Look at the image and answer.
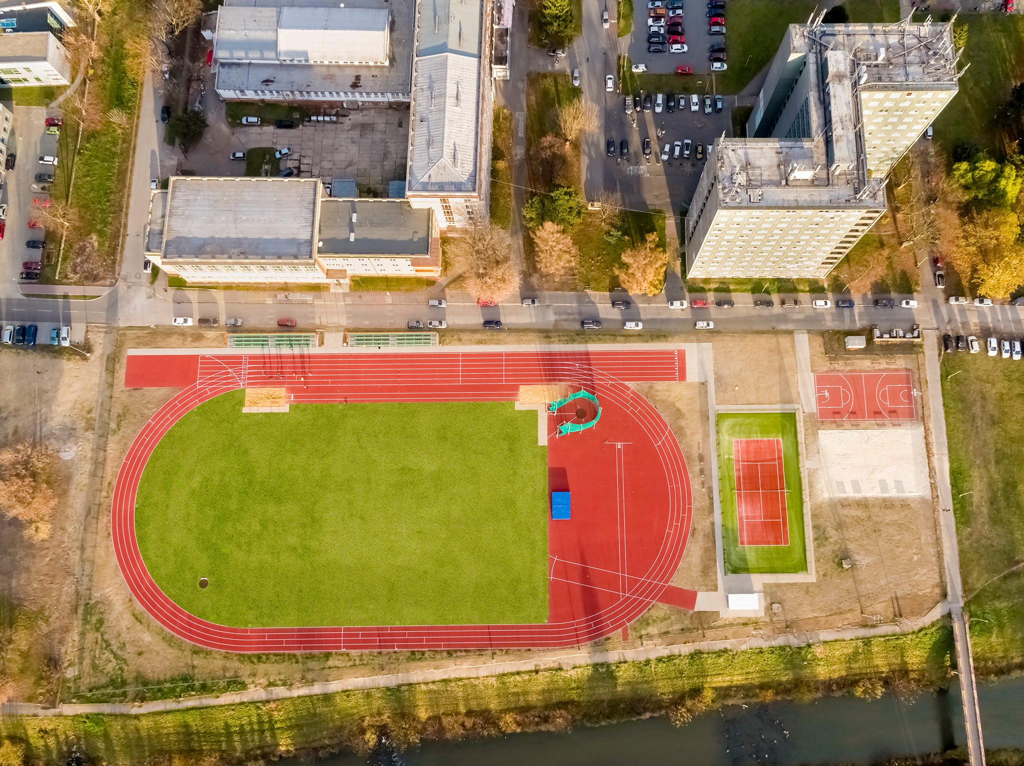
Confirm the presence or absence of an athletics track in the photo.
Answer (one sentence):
Yes, the picture does show an athletics track.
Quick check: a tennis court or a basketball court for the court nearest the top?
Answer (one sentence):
The court nearest the top is a basketball court.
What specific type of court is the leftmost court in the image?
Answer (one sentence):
I'd identify the leftmost court as a tennis court.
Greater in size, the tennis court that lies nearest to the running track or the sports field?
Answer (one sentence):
The sports field takes up more space than the tennis court.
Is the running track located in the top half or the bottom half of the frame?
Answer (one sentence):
It is in the bottom half that the running track appears.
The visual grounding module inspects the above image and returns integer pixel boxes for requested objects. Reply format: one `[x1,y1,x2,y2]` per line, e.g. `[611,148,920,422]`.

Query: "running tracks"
[111,349,697,652]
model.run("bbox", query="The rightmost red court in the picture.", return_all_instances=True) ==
[814,368,918,422]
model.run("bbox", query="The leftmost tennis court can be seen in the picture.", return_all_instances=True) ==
[718,412,807,574]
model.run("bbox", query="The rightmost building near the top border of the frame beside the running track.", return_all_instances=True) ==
[683,23,960,282]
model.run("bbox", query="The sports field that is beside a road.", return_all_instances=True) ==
[134,388,549,628]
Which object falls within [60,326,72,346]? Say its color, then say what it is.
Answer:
white vehicle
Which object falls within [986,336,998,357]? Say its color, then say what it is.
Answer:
white vehicle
